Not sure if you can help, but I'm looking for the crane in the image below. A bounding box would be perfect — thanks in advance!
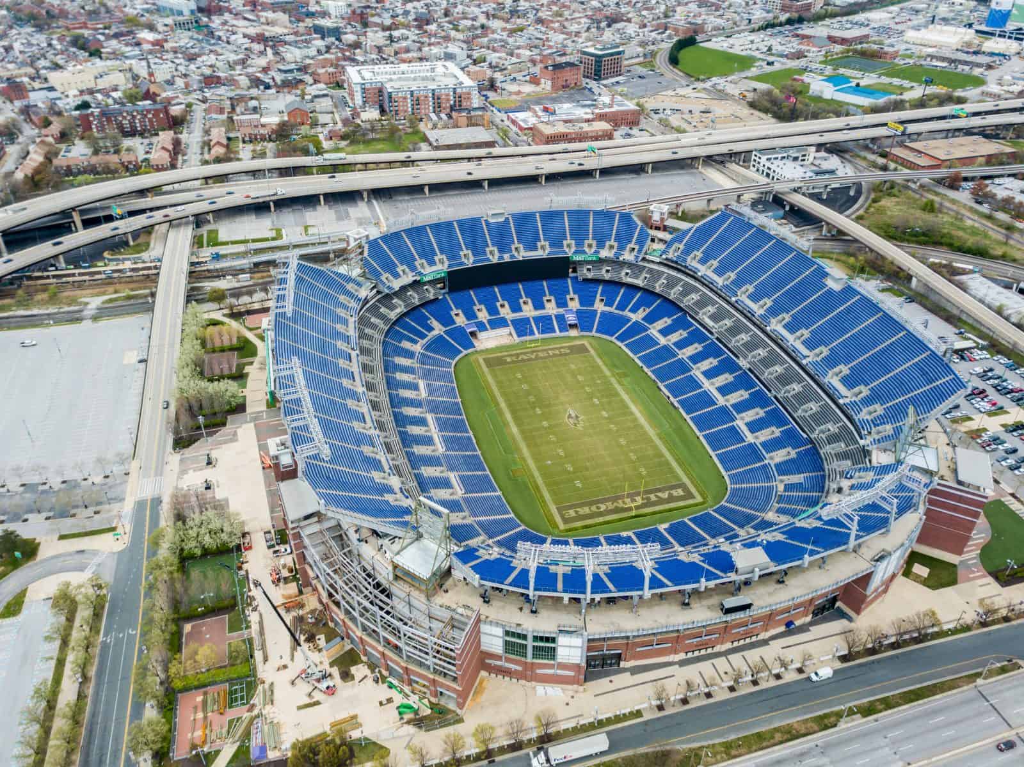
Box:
[252,579,340,701]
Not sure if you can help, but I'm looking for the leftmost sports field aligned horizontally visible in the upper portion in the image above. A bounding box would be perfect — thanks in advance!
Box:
[679,47,761,78]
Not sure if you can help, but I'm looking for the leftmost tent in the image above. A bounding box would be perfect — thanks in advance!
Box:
[903,28,975,50]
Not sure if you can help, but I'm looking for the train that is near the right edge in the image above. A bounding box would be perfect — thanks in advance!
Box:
[937,255,998,273]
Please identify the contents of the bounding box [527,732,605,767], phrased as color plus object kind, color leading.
white truck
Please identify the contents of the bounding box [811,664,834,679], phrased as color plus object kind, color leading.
white vehicle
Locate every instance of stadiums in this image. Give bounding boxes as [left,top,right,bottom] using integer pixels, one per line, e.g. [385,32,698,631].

[258,199,998,714]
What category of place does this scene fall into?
sports ground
